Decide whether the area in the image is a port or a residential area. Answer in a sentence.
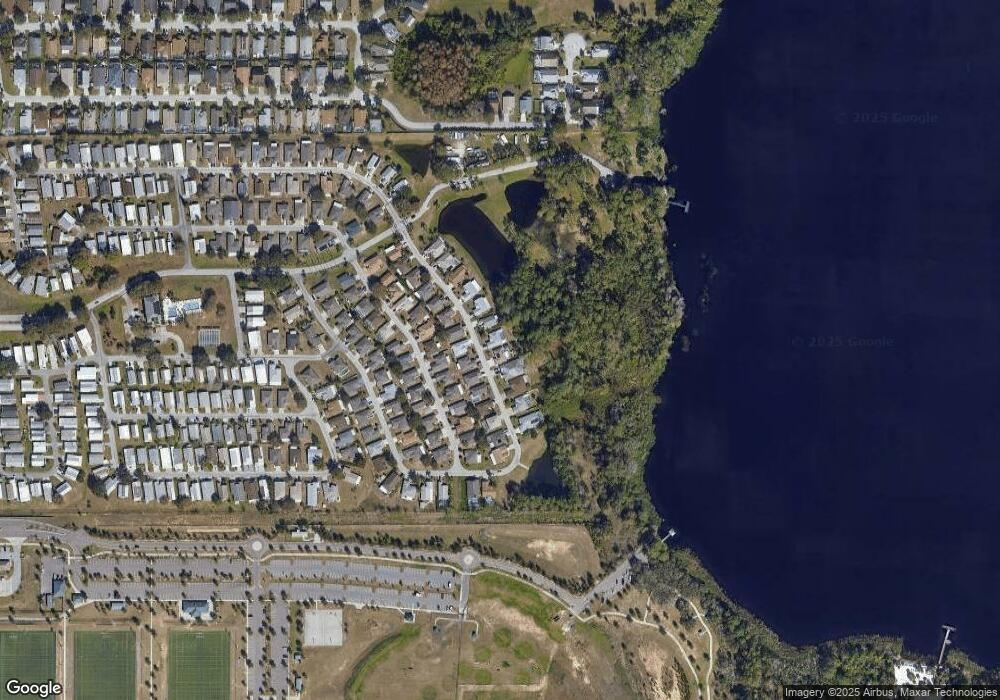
This image shows a residential area.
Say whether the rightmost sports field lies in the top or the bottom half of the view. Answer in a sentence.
The rightmost sports field sits in the bottom half of the picture.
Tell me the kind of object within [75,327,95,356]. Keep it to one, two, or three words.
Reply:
house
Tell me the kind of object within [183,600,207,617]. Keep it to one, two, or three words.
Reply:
building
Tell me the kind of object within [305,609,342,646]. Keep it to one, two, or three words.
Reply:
basketball court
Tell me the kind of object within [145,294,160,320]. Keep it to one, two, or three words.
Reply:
building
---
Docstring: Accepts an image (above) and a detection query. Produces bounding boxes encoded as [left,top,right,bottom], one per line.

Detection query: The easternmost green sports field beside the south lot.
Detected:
[168,631,230,700]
